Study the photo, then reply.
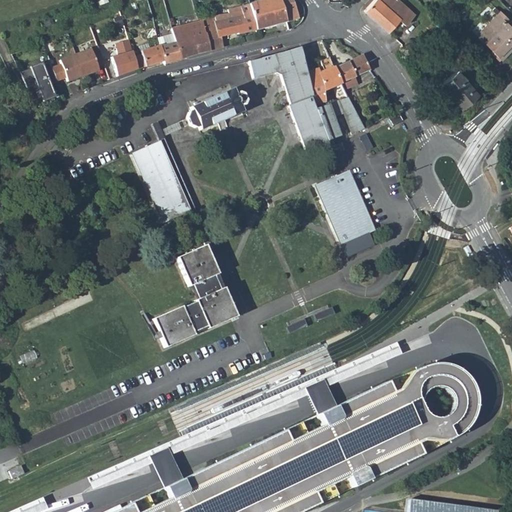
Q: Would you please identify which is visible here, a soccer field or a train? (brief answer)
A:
train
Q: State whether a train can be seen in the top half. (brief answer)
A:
No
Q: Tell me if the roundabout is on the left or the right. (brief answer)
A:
right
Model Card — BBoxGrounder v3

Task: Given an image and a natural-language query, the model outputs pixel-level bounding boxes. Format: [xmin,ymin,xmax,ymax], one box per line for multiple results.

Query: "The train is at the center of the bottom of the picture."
[210,370,303,414]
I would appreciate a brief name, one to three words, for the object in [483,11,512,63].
house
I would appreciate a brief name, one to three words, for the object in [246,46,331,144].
building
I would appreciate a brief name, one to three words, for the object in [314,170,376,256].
building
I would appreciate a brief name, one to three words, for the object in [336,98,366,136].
shed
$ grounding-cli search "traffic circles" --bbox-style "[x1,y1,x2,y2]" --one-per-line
[411,106,512,318]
